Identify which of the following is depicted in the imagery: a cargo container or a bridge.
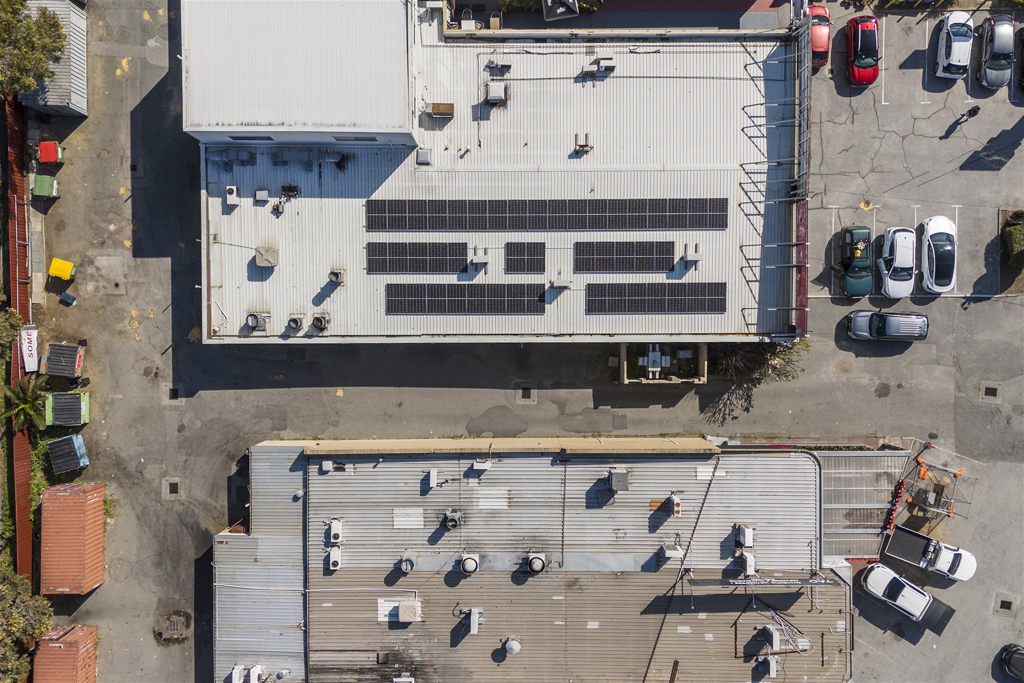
cargo container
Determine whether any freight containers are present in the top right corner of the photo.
No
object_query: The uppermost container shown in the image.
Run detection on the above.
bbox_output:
[41,482,103,594]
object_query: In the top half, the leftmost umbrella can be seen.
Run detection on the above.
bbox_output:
[545,0,579,21]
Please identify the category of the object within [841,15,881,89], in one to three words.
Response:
car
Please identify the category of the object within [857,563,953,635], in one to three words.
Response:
truck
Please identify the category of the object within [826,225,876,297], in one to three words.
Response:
car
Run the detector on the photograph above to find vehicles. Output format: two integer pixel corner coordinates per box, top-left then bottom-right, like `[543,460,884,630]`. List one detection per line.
[844,309,931,343]
[857,563,953,635]
[874,226,918,299]
[841,15,881,89]
[882,523,971,581]
[798,7,834,69]
[972,15,1013,90]
[917,216,958,295]
[826,225,876,297]
[1016,25,1024,97]
[932,12,973,81]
